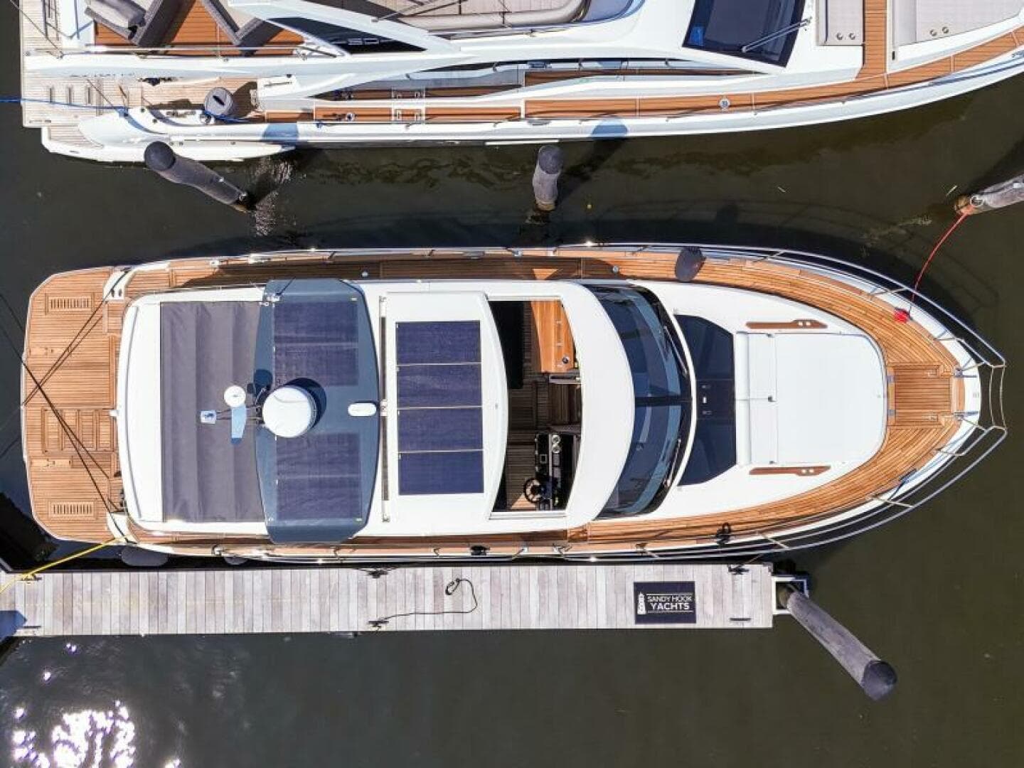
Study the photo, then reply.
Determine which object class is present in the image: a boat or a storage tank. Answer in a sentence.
Visible in the photo is a boat.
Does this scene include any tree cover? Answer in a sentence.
No, tree cover can't be seen anywhere here.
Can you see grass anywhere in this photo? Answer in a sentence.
No, the scene doesn't show any grass.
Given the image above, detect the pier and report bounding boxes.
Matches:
[0,489,810,651]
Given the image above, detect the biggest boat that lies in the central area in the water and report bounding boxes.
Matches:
[23,242,1007,566]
